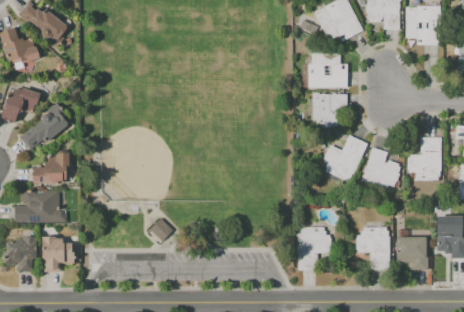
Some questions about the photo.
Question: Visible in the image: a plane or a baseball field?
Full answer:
Looking from above, you can make out a baseball field.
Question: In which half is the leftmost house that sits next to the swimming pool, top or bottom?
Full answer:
It is in the bottom half that the leftmost house that sits next to the swimming pool appears.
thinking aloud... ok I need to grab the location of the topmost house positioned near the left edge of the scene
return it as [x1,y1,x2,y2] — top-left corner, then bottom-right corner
[18,0,72,44]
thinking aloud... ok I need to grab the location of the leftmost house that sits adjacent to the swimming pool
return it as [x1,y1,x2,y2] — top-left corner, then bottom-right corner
[300,226,332,270]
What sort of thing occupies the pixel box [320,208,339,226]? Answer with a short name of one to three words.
swimming pool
